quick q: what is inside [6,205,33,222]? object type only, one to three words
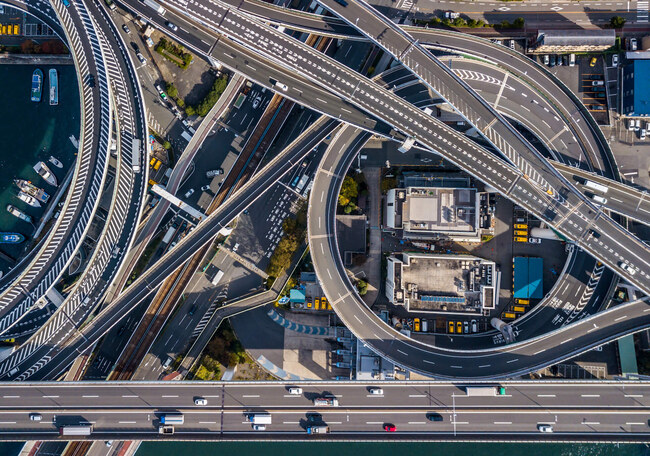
boat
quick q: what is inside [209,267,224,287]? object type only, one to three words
vehicle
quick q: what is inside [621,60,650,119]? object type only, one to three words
building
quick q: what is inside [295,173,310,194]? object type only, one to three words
vehicle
